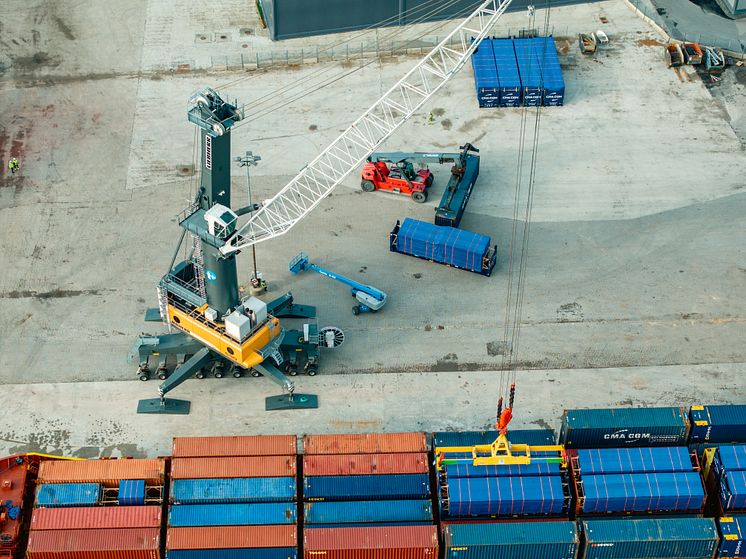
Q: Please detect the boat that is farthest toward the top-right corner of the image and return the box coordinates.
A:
[597,26,610,42]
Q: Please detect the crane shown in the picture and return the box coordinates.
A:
[122,0,545,413]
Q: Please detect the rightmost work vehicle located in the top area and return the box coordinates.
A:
[357,144,479,217]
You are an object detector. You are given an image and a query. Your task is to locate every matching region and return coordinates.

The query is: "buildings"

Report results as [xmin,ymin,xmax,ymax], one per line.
[715,0,746,20]
[261,0,602,40]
